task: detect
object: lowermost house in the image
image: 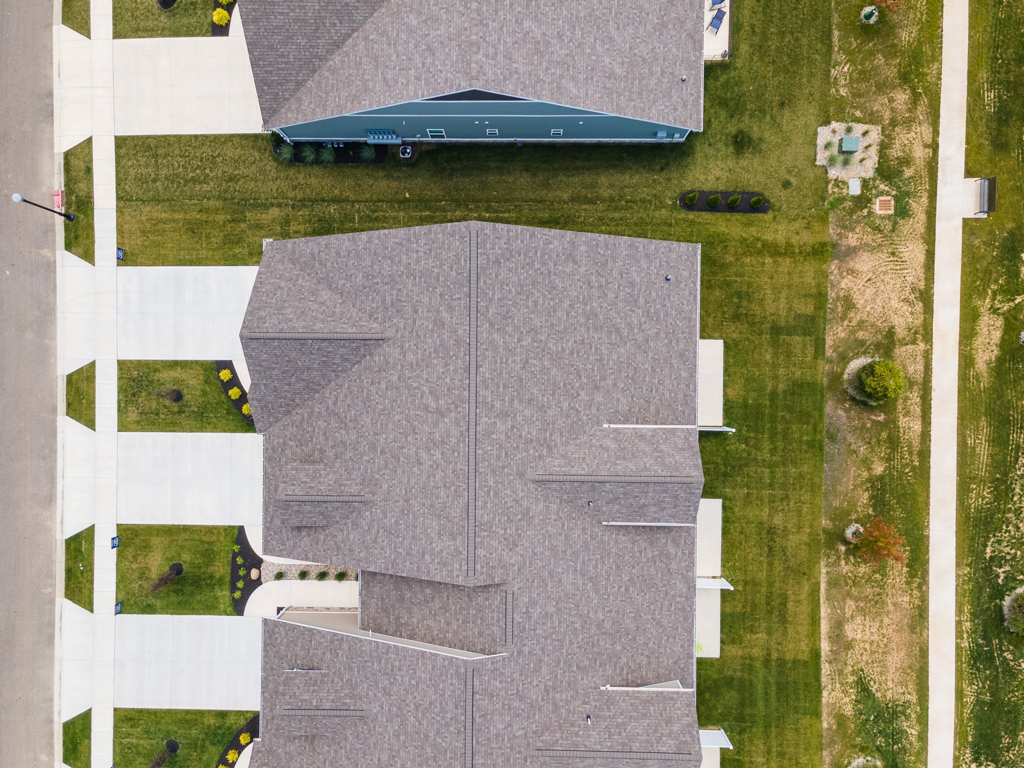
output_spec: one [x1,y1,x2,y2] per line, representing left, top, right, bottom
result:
[239,221,704,768]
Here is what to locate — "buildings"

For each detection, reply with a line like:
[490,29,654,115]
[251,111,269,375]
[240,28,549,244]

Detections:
[239,221,704,768]
[239,0,705,150]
